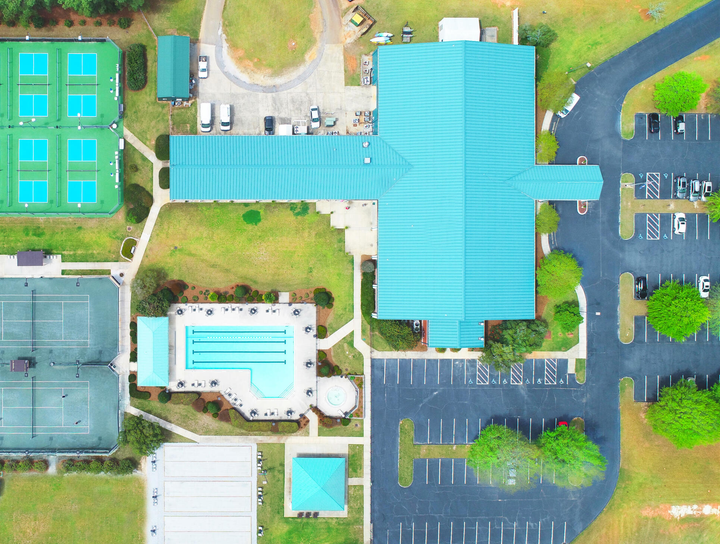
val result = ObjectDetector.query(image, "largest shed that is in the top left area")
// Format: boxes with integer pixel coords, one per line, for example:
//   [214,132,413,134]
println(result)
[158,34,190,100]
